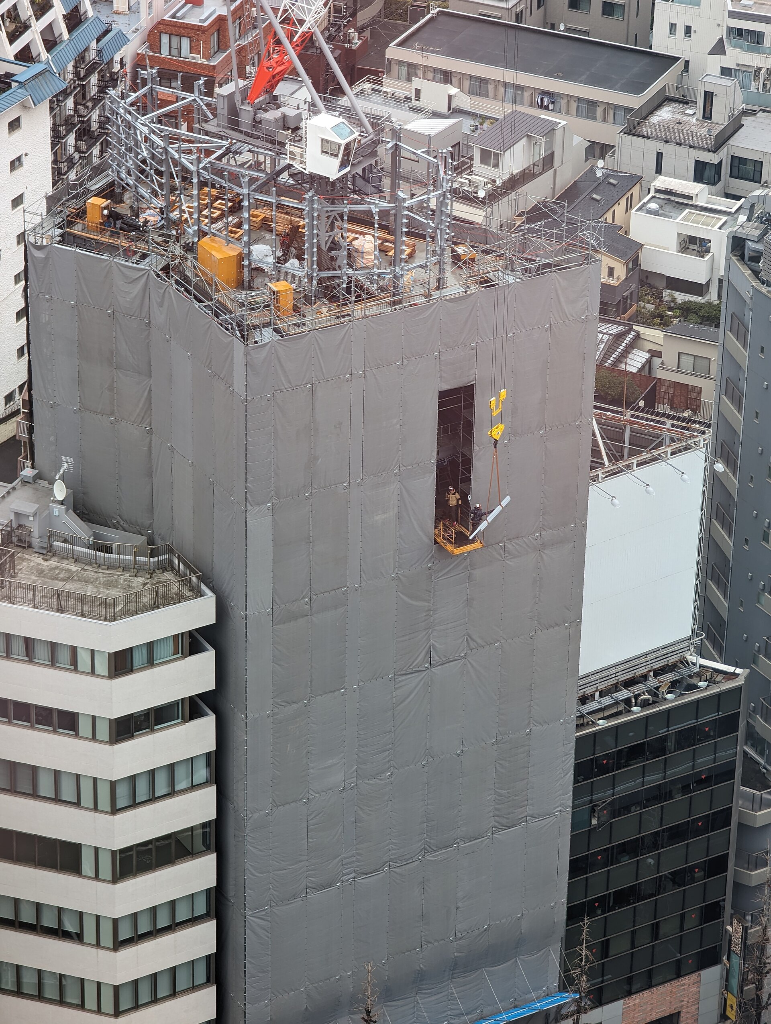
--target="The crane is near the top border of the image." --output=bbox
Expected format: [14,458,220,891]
[188,0,394,295]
